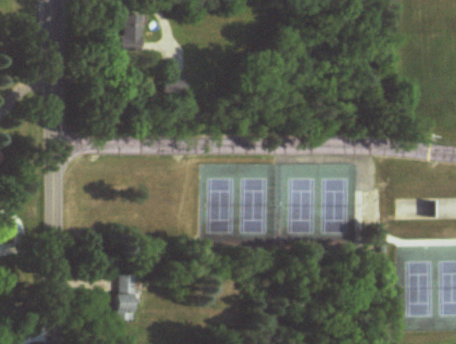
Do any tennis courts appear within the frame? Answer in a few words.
Yes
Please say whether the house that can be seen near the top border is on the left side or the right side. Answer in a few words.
left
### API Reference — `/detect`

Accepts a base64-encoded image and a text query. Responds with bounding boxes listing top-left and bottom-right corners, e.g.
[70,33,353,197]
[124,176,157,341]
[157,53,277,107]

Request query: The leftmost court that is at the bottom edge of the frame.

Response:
[396,246,435,330]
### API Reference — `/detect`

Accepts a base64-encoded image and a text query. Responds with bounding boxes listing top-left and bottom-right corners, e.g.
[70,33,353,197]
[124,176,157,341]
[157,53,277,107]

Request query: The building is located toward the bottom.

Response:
[118,275,140,321]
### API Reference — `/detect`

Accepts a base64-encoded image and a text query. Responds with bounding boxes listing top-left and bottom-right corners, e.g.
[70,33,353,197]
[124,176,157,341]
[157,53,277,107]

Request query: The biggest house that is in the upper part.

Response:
[122,12,146,49]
